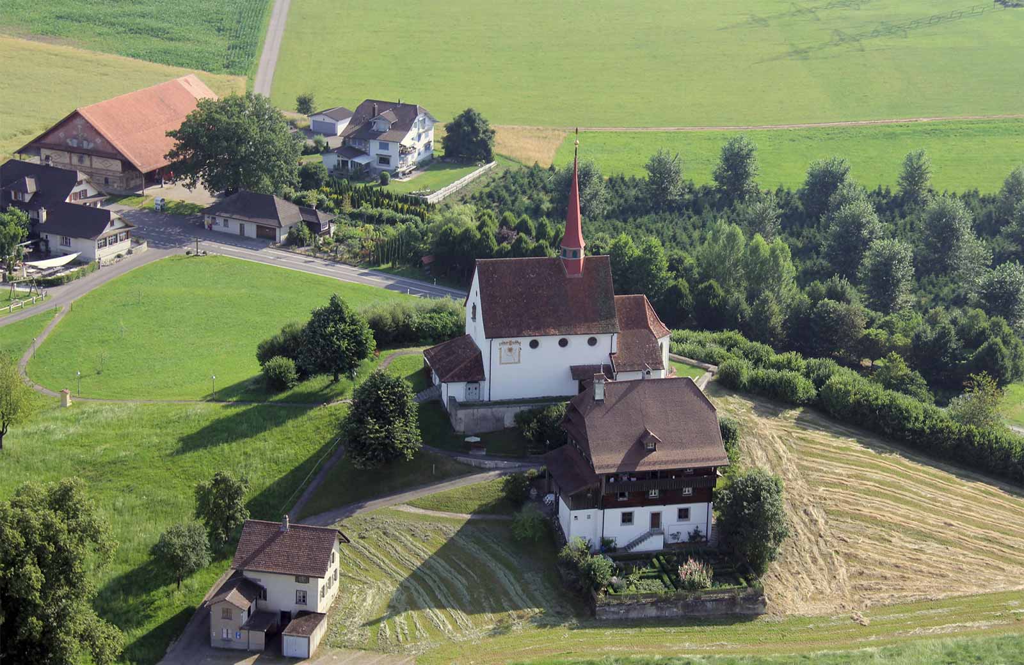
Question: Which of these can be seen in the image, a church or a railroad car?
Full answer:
The one in the frame is a church.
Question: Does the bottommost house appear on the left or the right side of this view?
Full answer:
The bottommost house sits on the left side.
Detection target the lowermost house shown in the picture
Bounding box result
[205,511,350,657]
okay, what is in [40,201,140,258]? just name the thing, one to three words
house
